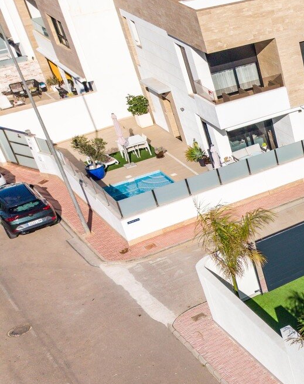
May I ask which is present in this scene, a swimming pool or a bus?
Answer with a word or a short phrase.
swimming pool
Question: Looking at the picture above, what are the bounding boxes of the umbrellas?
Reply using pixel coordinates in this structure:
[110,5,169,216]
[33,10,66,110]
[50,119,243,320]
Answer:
[108,113,139,169]
[205,123,228,169]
